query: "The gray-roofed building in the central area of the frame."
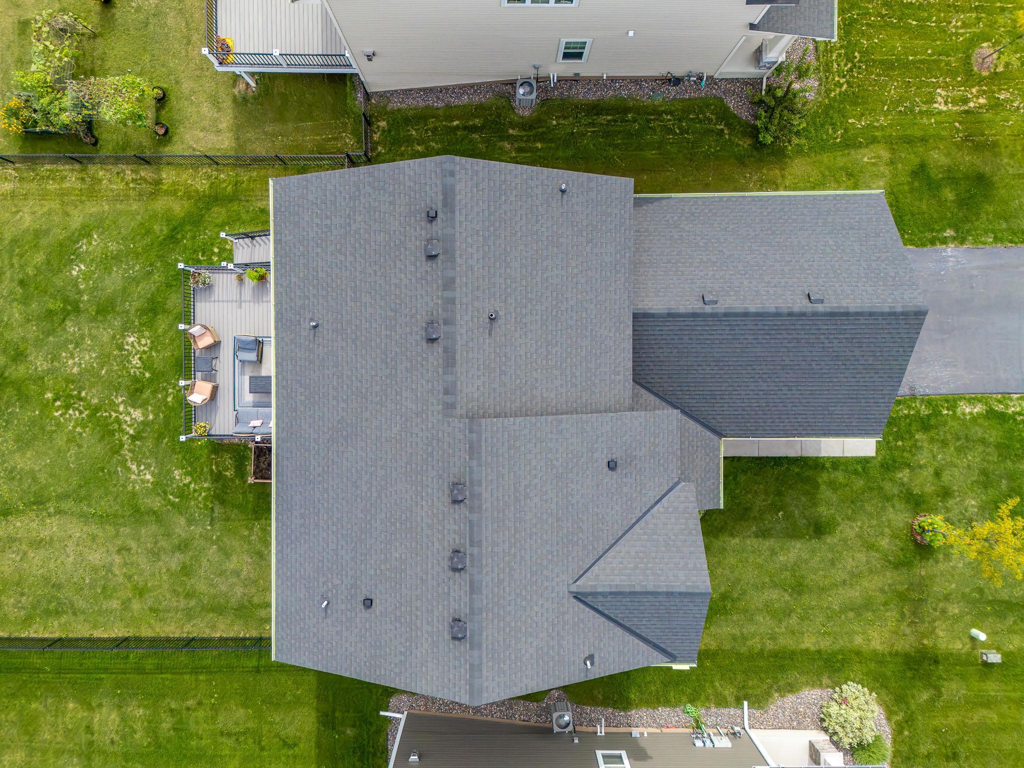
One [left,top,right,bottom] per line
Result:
[268,154,927,703]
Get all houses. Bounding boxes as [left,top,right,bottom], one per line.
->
[378,702,883,768]
[286,0,837,94]
[268,154,927,703]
